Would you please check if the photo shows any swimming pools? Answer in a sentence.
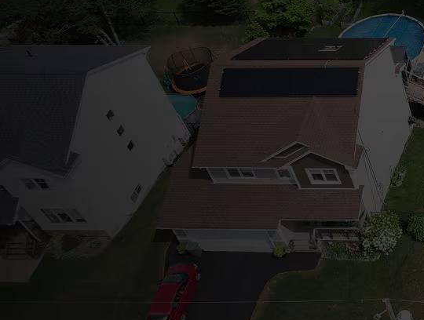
Yes, the frame does contain a swimming pool.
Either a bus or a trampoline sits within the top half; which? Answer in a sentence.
It is a trampoline that can be seen within the top half.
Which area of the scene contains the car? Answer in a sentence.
The car is in the bottom part of the image.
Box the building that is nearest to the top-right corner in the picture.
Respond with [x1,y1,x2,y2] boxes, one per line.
[159,37,412,259]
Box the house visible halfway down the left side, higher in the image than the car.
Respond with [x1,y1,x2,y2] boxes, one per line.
[0,43,189,272]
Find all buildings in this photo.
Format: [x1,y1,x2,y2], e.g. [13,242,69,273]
[0,43,189,272]
[159,37,412,259]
